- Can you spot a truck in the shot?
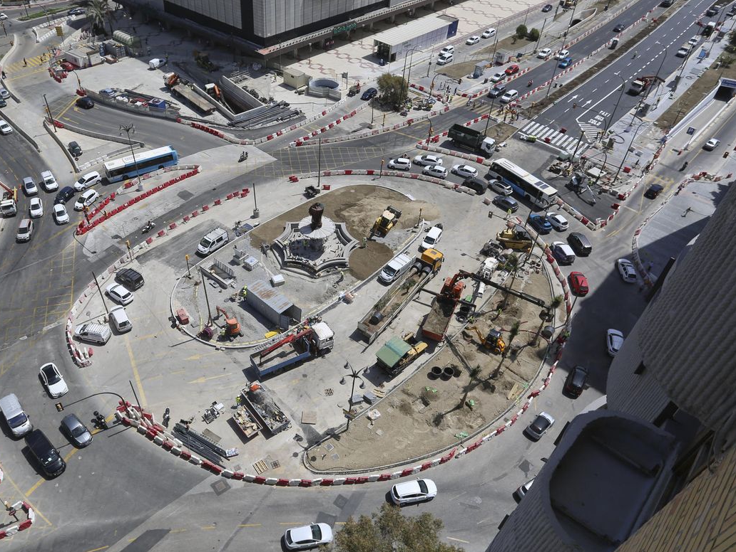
Yes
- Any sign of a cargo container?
Yes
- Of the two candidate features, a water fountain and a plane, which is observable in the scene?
water fountain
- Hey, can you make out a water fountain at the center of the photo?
Yes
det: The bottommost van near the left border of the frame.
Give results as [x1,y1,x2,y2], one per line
[24,432,65,479]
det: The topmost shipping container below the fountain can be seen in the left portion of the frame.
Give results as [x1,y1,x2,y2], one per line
[247,285,307,345]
